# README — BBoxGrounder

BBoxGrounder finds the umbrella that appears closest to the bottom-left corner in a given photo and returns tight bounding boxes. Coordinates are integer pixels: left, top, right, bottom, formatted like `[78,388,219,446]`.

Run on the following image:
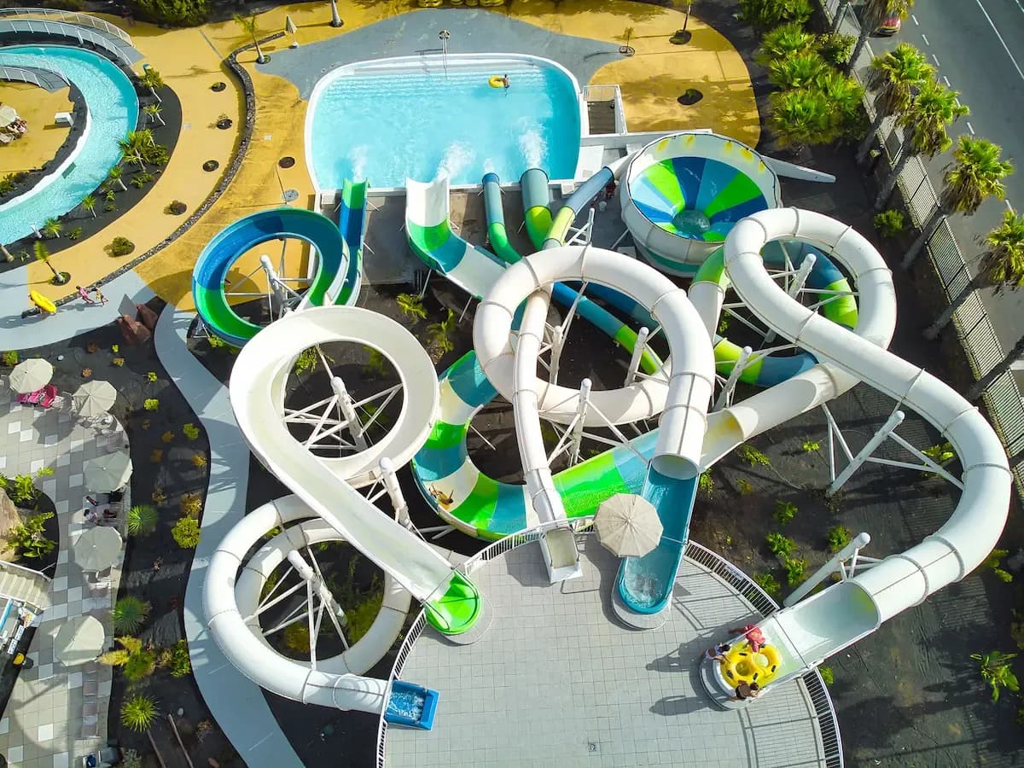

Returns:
[54,615,114,672]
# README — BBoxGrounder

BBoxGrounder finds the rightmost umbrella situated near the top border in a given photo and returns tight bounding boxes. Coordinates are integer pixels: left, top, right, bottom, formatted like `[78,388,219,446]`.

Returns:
[286,18,298,49]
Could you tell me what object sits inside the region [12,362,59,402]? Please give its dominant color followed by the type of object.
white umbrella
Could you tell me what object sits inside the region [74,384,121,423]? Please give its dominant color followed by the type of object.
white umbrella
